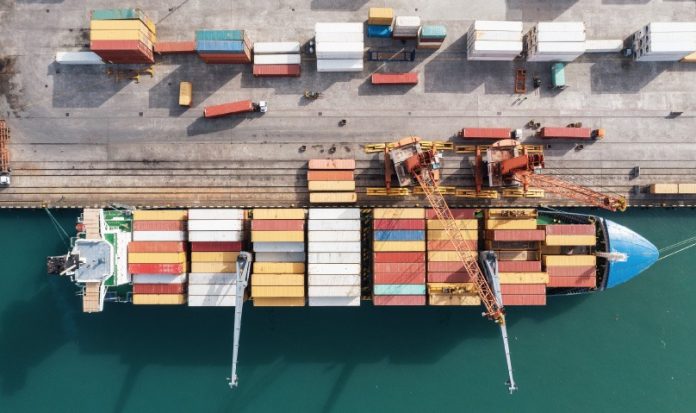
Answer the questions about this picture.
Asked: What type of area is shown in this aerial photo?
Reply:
port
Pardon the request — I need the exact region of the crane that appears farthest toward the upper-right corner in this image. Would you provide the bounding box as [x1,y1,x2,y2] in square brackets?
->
[454,139,627,215]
